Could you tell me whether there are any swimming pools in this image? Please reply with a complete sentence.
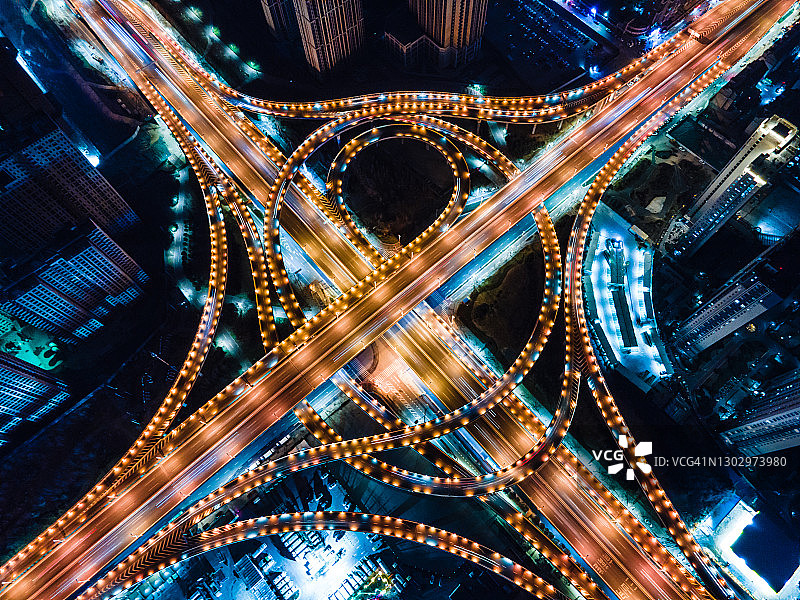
No, the frame has no swimming pool in it.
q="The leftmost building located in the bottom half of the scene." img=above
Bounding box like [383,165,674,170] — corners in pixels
[0,338,70,438]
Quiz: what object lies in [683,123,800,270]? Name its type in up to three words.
building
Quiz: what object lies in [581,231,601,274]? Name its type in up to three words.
shed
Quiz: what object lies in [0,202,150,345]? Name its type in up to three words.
building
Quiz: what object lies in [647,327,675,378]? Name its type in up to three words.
shed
